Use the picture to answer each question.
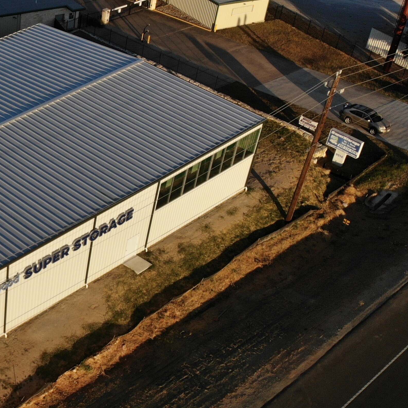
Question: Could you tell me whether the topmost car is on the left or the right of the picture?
right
